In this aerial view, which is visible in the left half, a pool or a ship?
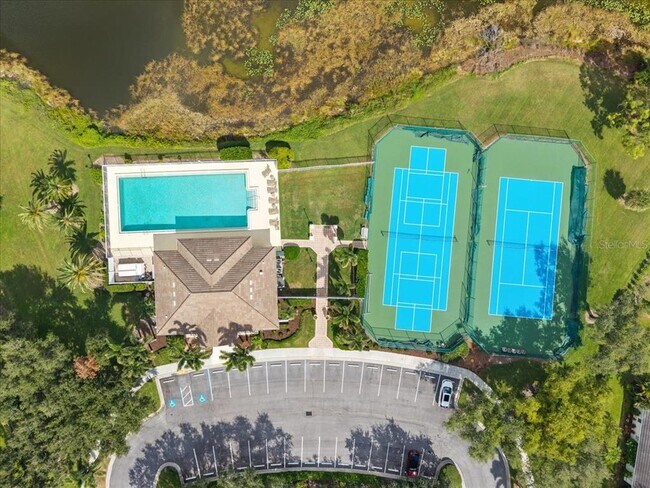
pool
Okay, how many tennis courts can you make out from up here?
2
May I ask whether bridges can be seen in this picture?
No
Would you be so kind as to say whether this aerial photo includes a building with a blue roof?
No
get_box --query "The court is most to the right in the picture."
[465,136,585,355]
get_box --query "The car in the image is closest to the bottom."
[406,450,420,478]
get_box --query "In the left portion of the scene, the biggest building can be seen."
[154,237,278,349]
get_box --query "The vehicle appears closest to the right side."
[440,379,454,408]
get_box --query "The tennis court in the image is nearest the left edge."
[365,126,481,346]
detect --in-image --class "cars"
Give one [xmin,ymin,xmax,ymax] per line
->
[406,450,420,478]
[440,379,454,408]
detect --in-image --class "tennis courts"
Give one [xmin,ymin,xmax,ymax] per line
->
[465,136,585,355]
[365,126,481,346]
